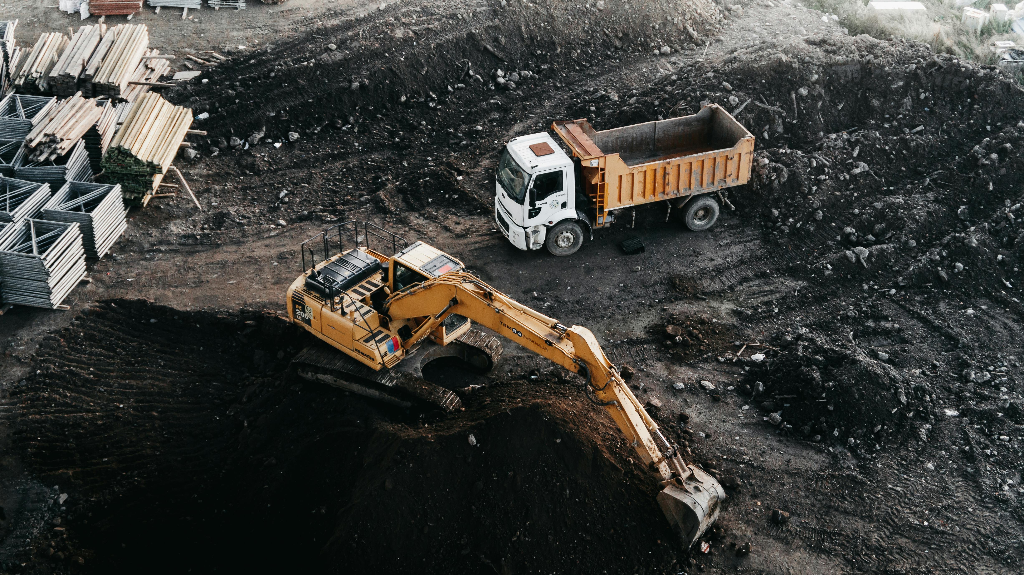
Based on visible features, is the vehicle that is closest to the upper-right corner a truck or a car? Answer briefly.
truck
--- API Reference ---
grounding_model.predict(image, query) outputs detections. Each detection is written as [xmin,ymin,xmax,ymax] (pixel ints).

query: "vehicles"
[279,216,728,558]
[494,103,755,256]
